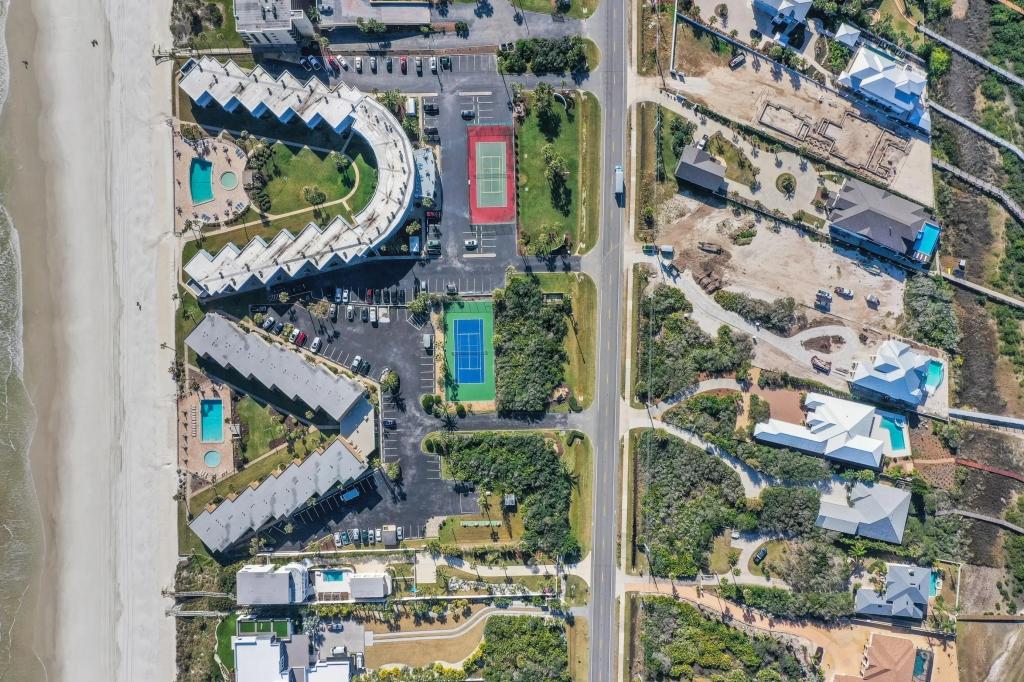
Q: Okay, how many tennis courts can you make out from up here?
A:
2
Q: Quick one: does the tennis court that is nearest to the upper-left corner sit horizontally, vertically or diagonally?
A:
vertically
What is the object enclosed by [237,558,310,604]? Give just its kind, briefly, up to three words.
house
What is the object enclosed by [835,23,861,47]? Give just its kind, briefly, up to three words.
gazebo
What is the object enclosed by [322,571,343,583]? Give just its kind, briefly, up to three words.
swimming pool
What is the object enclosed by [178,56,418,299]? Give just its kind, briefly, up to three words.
building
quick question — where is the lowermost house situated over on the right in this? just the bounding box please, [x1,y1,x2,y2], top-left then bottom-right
[829,627,914,682]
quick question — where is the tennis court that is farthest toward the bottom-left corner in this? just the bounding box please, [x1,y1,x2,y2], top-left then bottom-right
[443,301,495,402]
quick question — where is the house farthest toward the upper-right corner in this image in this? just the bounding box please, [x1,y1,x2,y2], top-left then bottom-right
[836,47,927,117]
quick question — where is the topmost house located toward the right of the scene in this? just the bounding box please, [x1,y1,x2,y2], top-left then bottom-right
[750,0,812,47]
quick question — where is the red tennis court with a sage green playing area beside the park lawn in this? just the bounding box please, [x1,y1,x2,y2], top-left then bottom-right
[467,124,516,224]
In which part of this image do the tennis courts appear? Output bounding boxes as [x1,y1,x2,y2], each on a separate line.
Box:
[467,124,516,224]
[443,301,495,402]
